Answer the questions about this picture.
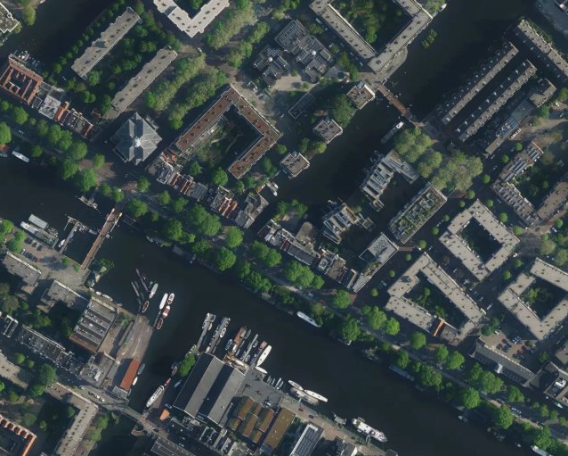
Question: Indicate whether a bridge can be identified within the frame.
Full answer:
Yes, a bridge appears in the view.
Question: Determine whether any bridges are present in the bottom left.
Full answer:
Yes, the scene does show a bridge in the bottom left.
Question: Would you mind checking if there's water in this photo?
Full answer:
Yes, there's water in this view.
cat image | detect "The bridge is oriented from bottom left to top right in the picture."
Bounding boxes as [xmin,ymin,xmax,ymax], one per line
[80,208,123,270]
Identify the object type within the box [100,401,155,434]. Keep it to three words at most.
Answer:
bridge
